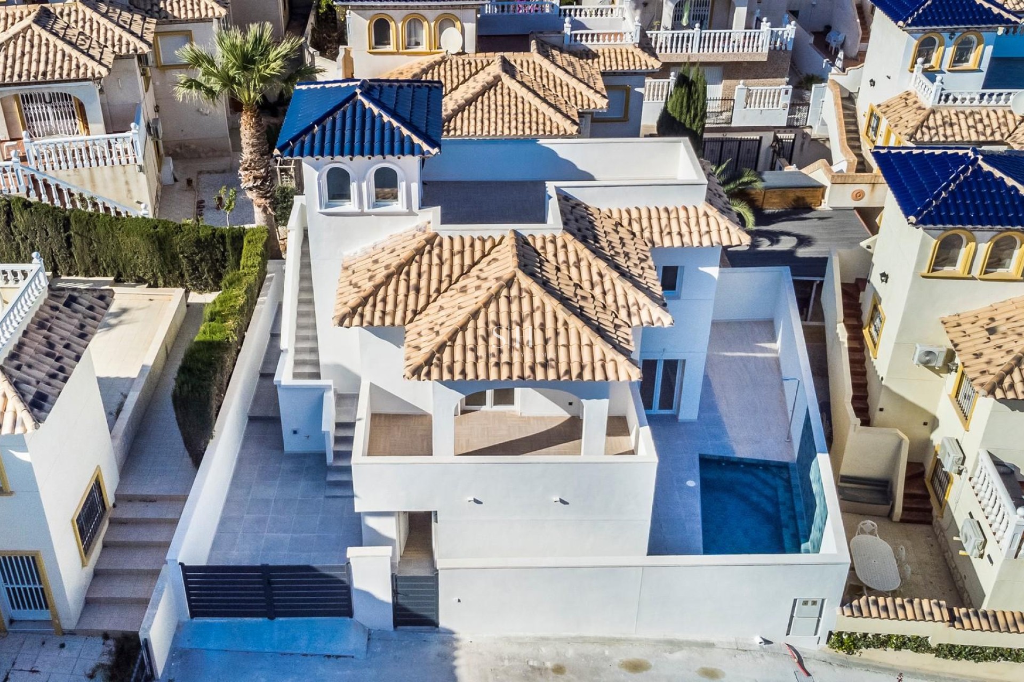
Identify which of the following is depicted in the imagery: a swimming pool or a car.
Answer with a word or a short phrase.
swimming pool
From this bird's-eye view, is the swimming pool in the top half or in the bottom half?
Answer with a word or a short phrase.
bottom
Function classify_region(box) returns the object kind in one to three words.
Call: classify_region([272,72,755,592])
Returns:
house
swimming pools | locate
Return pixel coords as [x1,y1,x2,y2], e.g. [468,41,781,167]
[699,458,795,545]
